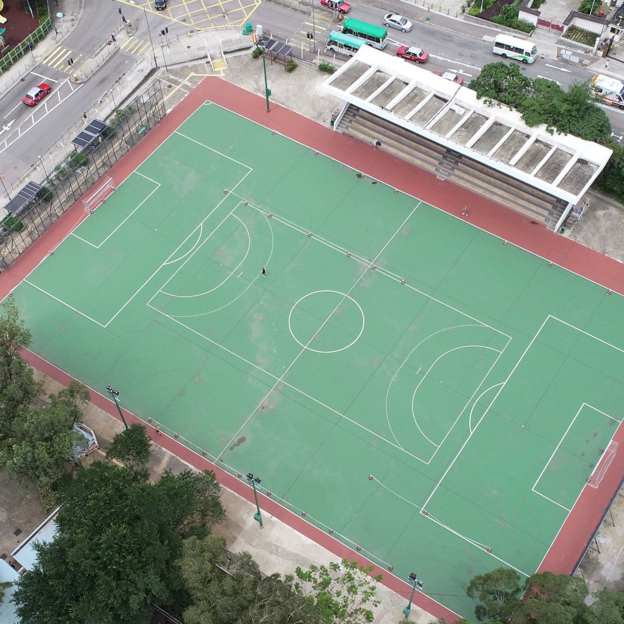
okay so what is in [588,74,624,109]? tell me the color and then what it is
white van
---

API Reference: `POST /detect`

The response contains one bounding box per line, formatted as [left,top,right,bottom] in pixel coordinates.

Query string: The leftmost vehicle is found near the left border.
[20,83,55,108]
